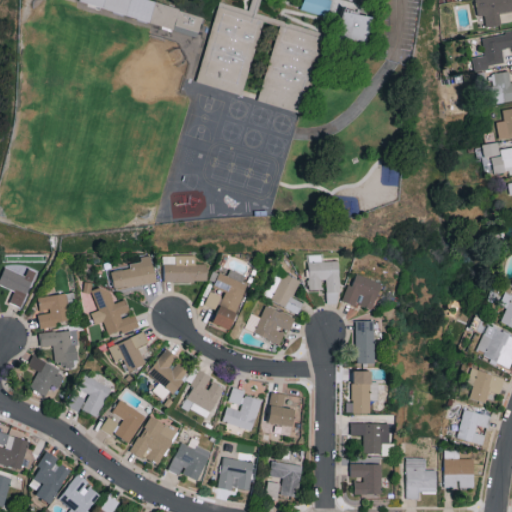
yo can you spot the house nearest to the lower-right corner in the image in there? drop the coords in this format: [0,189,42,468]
[444,451,476,489]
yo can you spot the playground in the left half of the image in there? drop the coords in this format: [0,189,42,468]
[170,190,206,219]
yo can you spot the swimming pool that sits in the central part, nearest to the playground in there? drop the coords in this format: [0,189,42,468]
[227,259,249,276]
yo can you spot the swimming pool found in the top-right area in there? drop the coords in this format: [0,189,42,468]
[457,8,470,28]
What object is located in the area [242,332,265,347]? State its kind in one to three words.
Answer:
swimming pool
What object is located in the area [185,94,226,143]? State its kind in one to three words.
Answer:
basketball court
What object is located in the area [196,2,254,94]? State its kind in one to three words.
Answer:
building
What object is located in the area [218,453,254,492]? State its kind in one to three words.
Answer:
house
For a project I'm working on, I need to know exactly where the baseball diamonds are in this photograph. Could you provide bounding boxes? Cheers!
[0,0,190,234]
